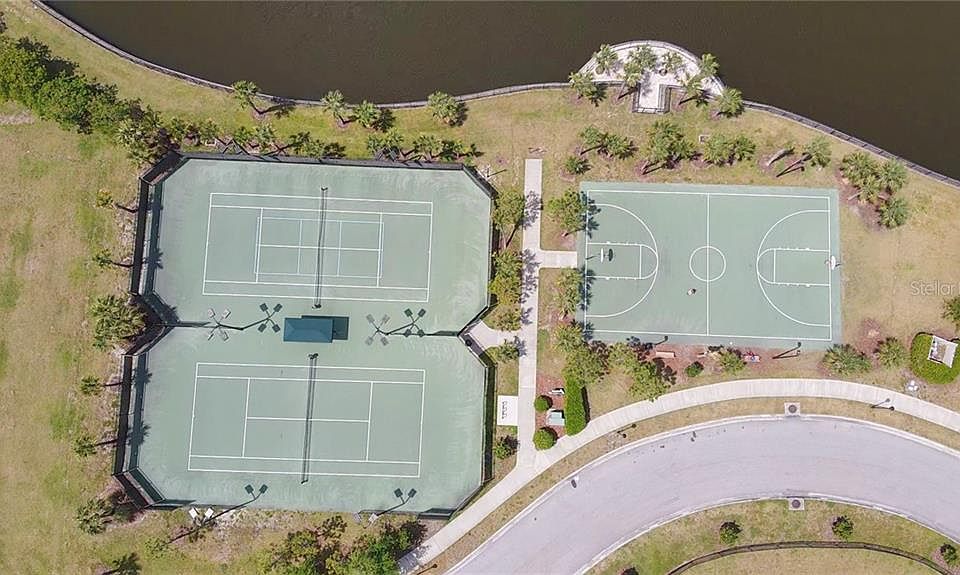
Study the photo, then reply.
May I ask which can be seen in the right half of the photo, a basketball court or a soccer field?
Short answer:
basketball court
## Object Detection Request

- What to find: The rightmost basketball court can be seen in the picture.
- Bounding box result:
[576,181,843,350]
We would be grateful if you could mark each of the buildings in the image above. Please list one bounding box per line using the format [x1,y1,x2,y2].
[283,318,335,343]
